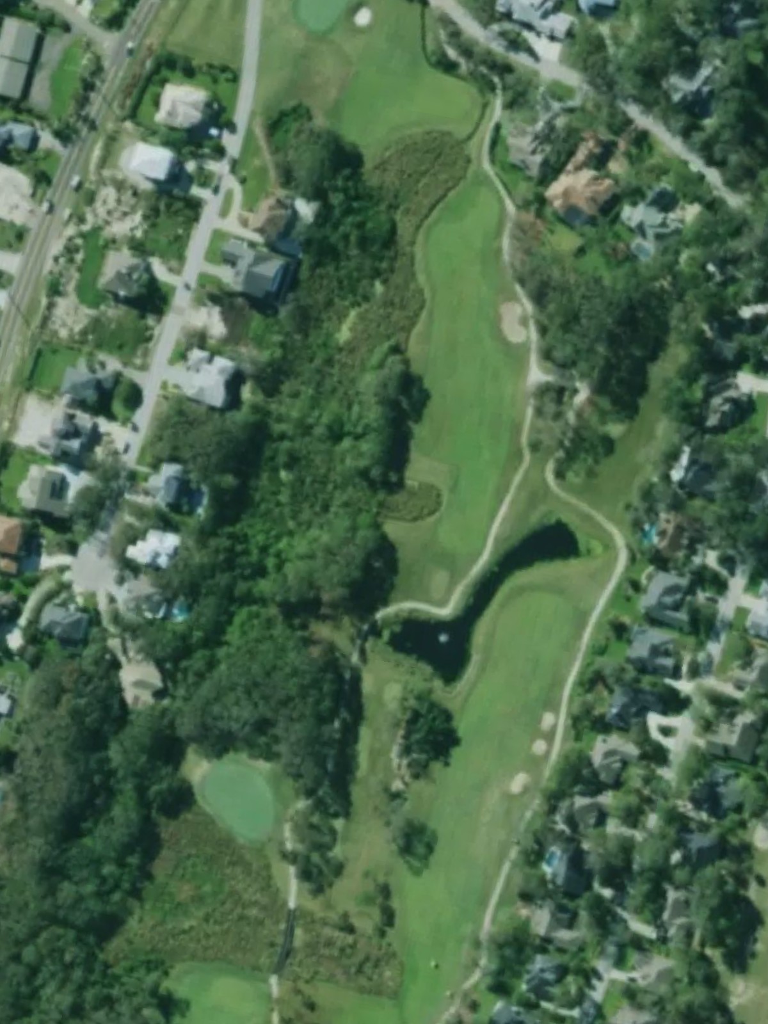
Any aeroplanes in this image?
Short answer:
No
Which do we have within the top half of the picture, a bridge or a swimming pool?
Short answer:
swimming pool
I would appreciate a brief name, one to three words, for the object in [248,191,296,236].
house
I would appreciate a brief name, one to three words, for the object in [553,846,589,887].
house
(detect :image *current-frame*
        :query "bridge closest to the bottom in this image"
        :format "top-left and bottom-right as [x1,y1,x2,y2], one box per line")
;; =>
[271,904,295,978]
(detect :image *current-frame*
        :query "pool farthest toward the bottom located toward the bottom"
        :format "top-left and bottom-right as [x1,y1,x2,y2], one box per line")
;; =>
[543,845,562,877]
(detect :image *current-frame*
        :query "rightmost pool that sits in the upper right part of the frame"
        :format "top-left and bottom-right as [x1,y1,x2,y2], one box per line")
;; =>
[631,238,655,263]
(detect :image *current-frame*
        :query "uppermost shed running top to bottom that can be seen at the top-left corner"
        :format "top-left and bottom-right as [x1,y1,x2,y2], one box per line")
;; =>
[0,19,35,97]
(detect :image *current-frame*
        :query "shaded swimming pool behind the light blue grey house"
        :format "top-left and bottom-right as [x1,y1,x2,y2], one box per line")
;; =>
[190,485,208,517]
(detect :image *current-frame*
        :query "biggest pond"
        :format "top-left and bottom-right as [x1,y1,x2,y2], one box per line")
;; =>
[389,519,580,684]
